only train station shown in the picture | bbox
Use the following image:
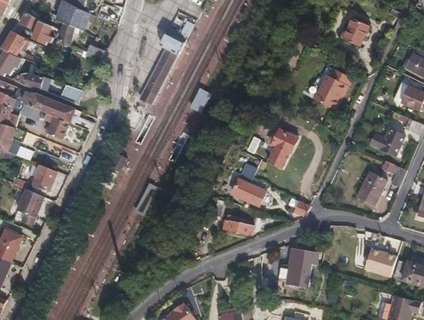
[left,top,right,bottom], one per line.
[48,0,249,320]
